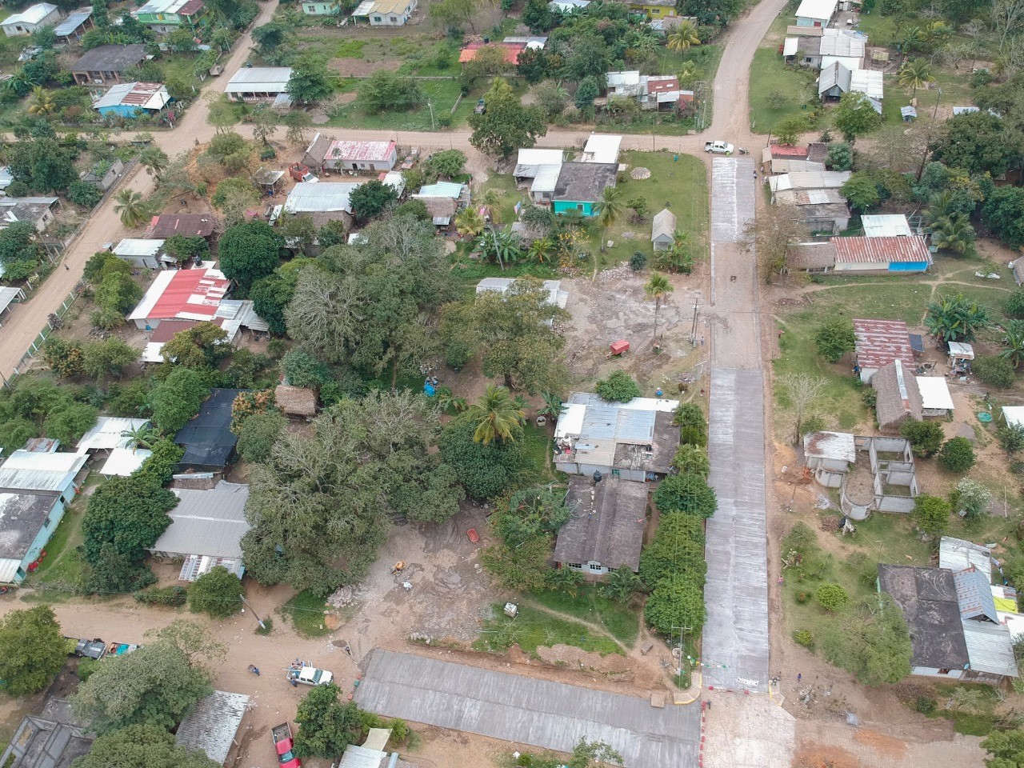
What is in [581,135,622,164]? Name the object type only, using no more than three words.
shed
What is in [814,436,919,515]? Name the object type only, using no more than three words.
house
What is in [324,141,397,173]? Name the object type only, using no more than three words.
house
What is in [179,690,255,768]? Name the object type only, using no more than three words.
shed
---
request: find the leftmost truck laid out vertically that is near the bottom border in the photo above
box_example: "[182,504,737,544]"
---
[269,716,294,768]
